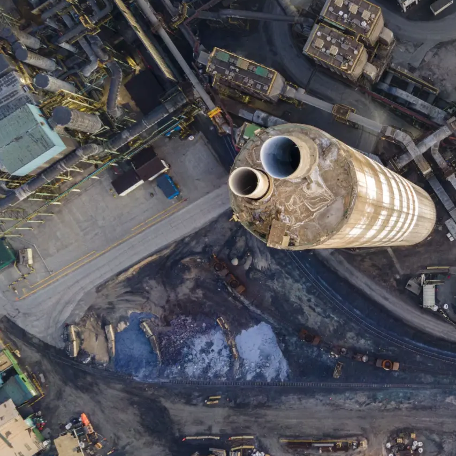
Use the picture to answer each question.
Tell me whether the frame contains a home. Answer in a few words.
Yes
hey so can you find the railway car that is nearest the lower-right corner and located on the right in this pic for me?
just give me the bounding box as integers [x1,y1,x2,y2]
[375,359,402,372]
